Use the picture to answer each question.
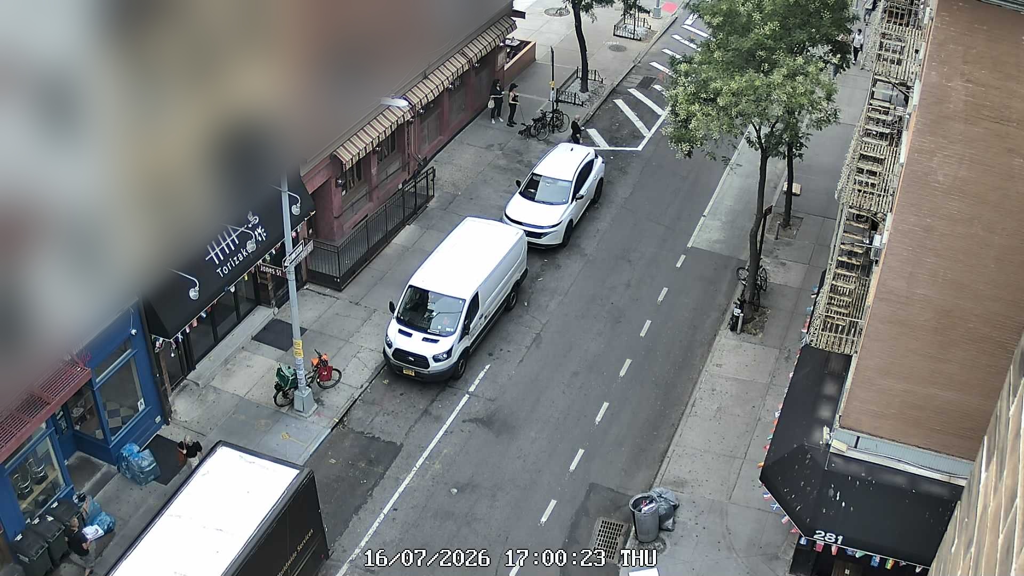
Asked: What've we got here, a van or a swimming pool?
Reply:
van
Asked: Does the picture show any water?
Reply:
No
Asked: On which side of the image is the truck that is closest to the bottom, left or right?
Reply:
left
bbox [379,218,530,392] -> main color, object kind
white van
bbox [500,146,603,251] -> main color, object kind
white car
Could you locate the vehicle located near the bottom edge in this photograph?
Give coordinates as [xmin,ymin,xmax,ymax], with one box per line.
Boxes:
[90,438,333,576]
